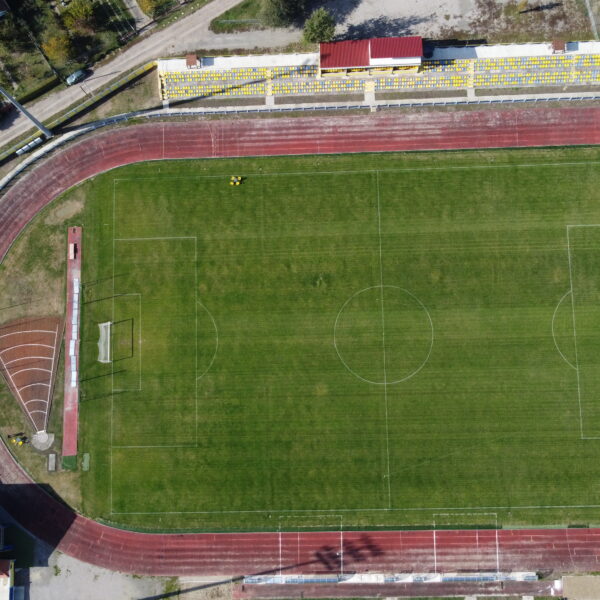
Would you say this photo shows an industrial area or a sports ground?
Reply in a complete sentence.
The area seen from above is a sports ground.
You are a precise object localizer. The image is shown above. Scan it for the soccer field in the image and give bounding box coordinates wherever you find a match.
[104,158,600,519]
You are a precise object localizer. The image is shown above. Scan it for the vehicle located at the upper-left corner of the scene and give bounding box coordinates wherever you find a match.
[65,66,87,84]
